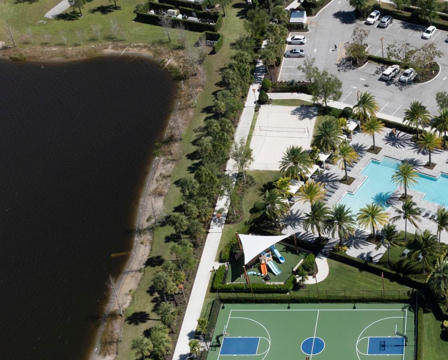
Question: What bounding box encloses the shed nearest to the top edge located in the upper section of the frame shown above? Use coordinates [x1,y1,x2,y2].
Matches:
[289,11,306,33]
